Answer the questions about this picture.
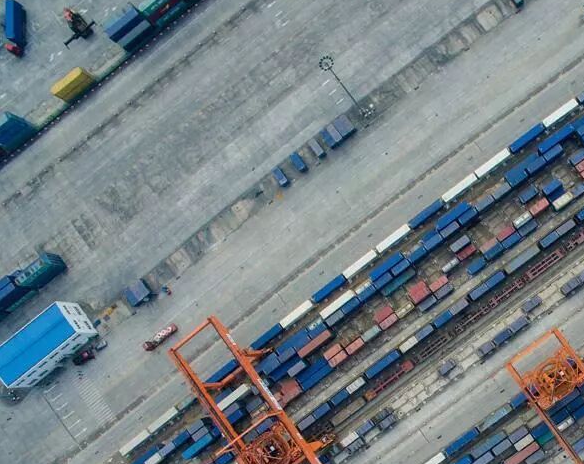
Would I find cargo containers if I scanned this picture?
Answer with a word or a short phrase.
Yes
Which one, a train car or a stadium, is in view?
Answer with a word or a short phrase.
train car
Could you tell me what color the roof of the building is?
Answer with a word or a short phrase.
blue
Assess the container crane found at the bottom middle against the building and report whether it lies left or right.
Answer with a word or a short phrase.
to its right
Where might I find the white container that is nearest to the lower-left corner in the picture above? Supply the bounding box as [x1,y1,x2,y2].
[111,431,151,462]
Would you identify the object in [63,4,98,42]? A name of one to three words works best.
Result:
work vehicle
